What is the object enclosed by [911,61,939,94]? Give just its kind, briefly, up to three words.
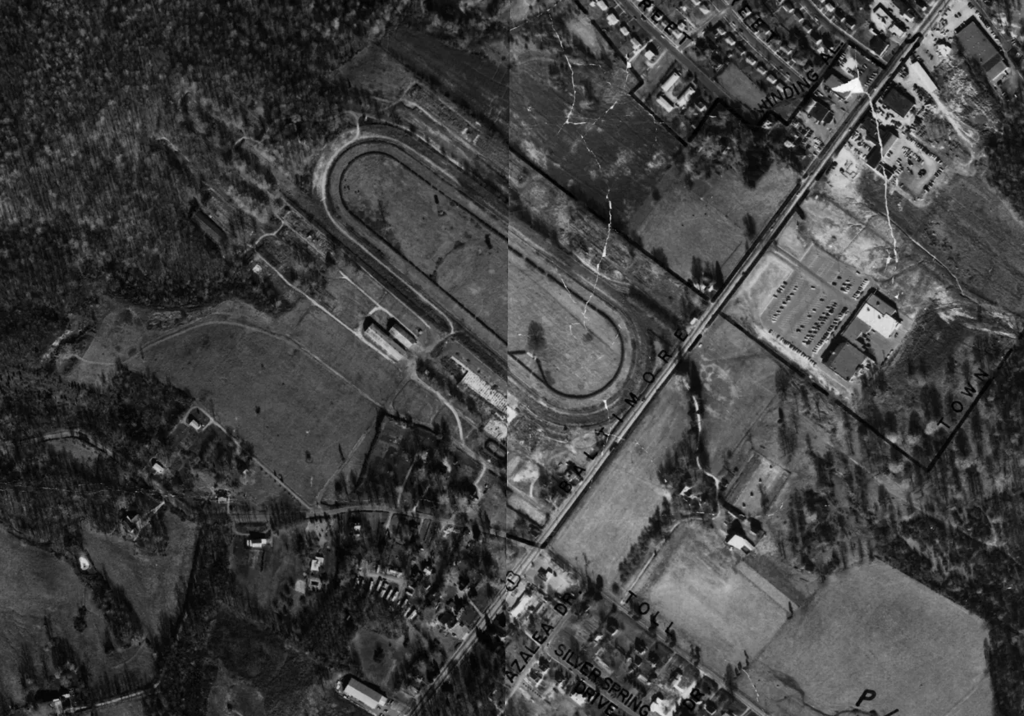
shed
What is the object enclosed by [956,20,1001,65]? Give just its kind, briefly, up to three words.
building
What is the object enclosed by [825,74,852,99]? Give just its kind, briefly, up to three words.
building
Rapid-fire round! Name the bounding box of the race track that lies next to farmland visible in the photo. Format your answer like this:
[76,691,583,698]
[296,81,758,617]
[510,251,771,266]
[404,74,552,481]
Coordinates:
[313,126,640,427]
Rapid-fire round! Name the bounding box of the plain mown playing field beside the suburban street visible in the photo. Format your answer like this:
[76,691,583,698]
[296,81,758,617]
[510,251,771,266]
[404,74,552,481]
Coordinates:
[719,65,767,110]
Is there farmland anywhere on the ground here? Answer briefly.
Yes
